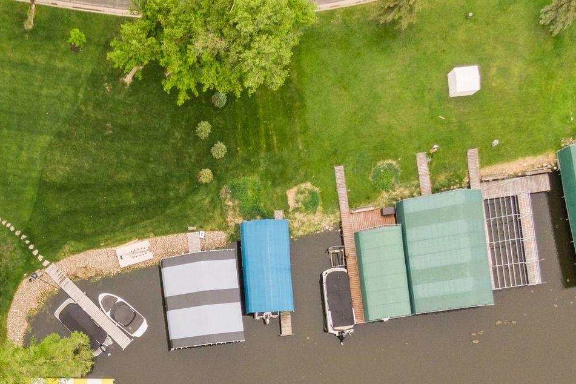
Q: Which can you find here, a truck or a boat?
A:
boat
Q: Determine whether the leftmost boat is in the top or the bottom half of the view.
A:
bottom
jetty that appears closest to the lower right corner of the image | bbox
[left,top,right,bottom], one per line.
[514,193,542,286]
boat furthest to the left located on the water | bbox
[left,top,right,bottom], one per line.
[53,299,112,361]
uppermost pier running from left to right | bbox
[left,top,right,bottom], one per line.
[479,173,551,199]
